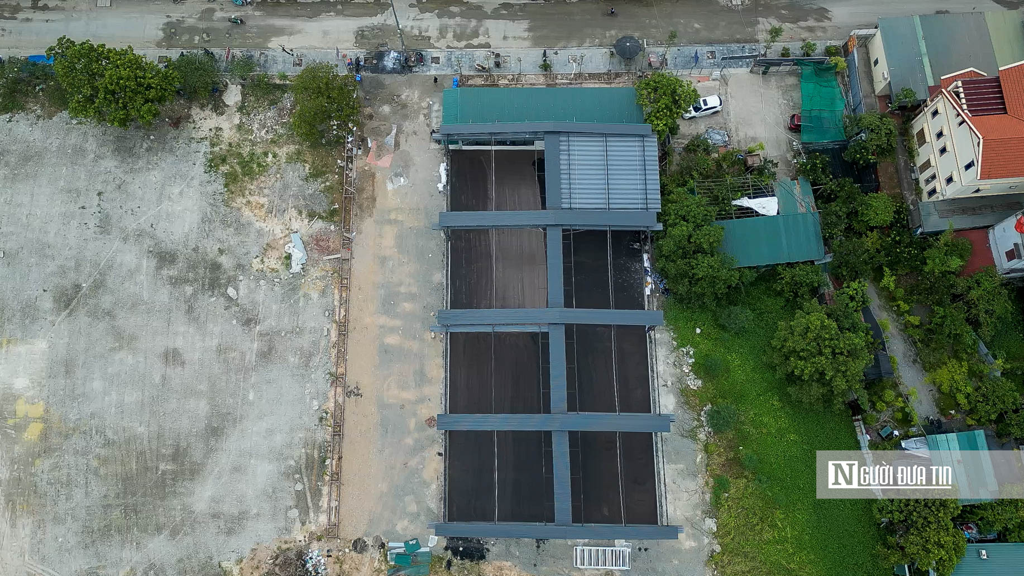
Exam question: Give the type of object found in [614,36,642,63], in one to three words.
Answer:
umbrella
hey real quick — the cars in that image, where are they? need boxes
[784,112,801,133]
[684,93,727,124]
